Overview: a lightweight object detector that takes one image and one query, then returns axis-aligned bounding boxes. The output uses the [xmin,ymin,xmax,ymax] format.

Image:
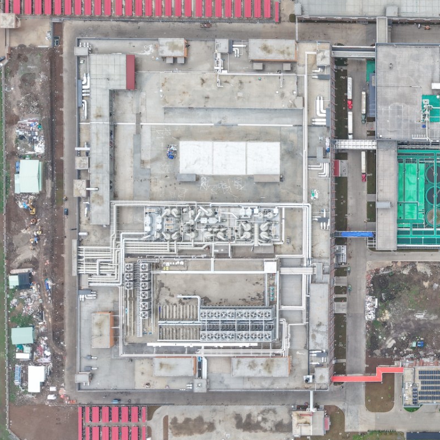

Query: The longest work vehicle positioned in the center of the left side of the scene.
[23,196,36,215]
